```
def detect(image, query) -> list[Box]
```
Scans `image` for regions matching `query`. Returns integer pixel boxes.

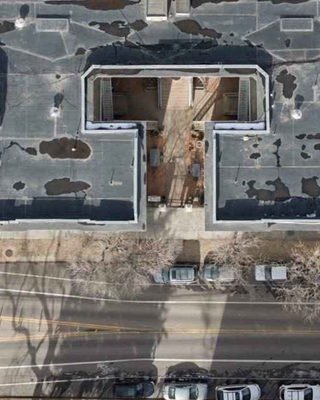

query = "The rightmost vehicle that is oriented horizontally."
[279,382,320,400]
